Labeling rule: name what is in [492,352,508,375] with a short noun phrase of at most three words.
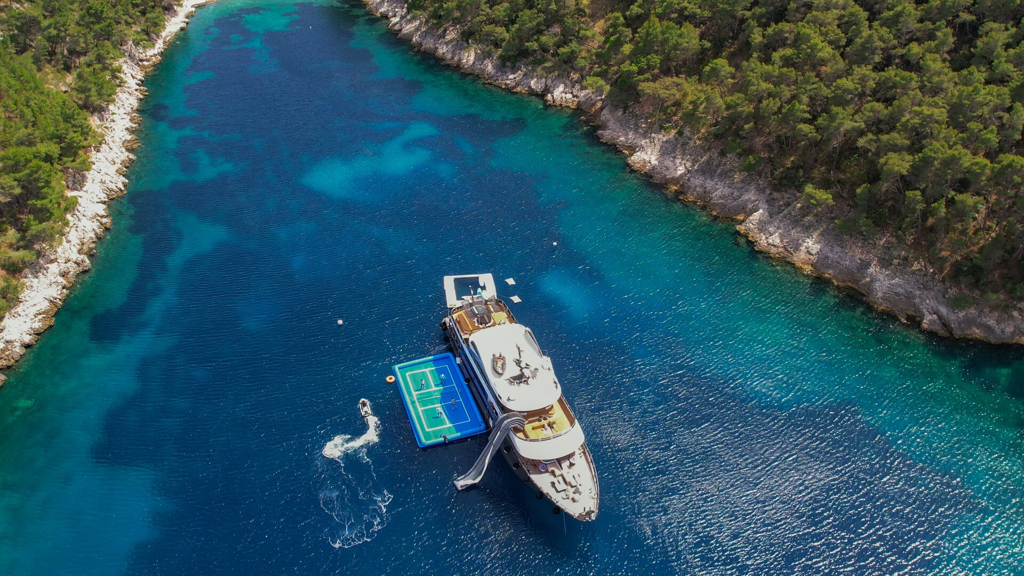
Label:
boat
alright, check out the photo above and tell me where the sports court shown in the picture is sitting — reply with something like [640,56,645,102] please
[391,351,486,448]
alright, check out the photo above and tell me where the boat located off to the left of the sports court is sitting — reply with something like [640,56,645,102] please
[359,399,371,419]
